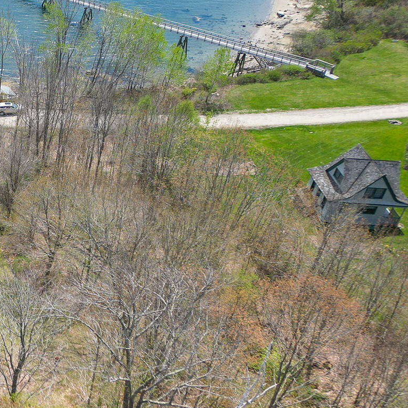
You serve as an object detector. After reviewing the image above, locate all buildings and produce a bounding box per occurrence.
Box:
[0,82,19,103]
[304,143,408,228]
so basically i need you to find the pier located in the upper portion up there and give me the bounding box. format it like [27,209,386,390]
[44,0,347,83]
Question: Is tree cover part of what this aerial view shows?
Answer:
Yes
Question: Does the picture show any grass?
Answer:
Yes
